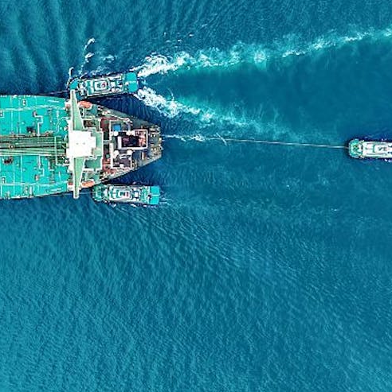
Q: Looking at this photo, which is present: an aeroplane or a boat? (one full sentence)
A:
Of the two, only a boat appears.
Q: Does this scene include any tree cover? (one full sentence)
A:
No, the picture contains no tree cover.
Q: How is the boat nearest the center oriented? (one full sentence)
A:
The boat nearest the center is laid out from left to right.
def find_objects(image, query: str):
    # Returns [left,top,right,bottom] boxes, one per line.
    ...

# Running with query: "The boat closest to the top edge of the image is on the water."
[67,70,138,99]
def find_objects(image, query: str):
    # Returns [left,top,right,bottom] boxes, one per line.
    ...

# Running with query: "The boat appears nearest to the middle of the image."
[92,184,160,205]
